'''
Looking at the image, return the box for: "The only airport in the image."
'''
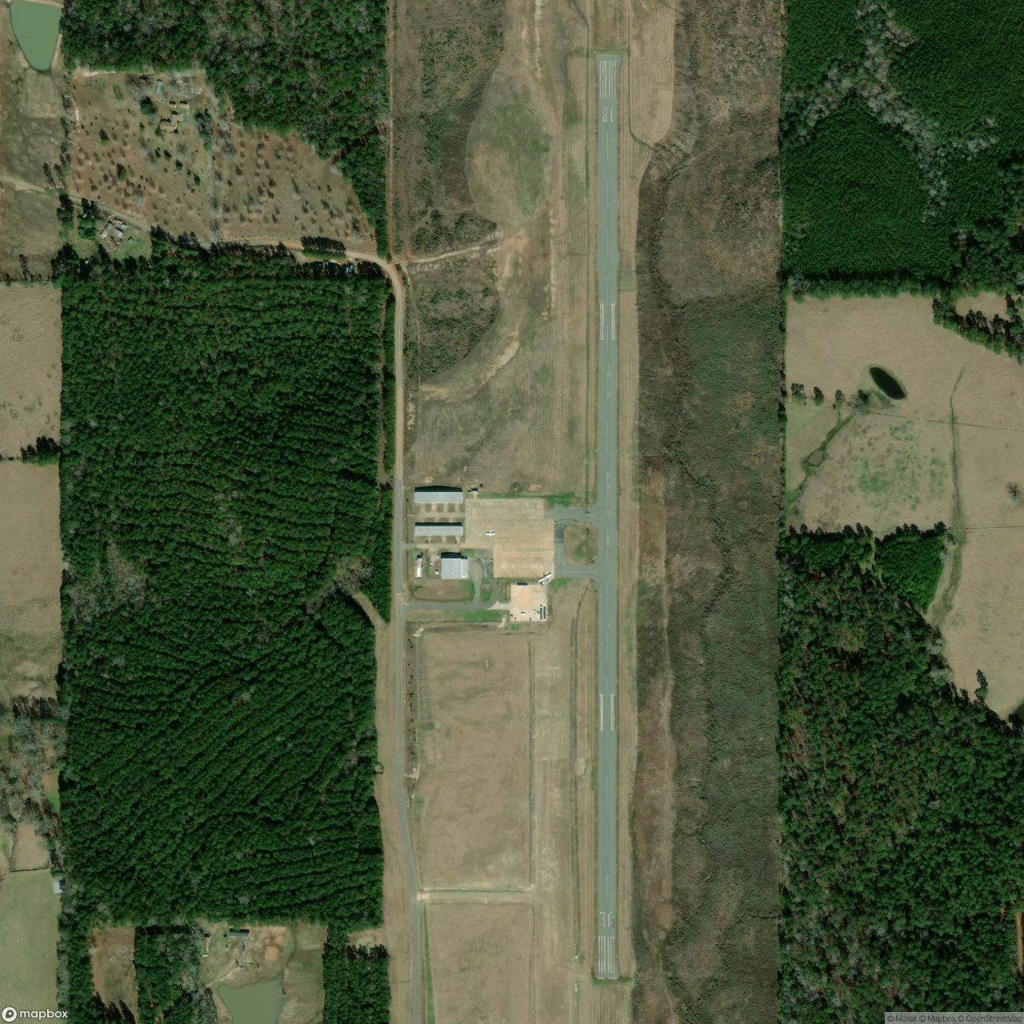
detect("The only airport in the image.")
[466,52,622,979]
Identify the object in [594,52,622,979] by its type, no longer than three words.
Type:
runway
